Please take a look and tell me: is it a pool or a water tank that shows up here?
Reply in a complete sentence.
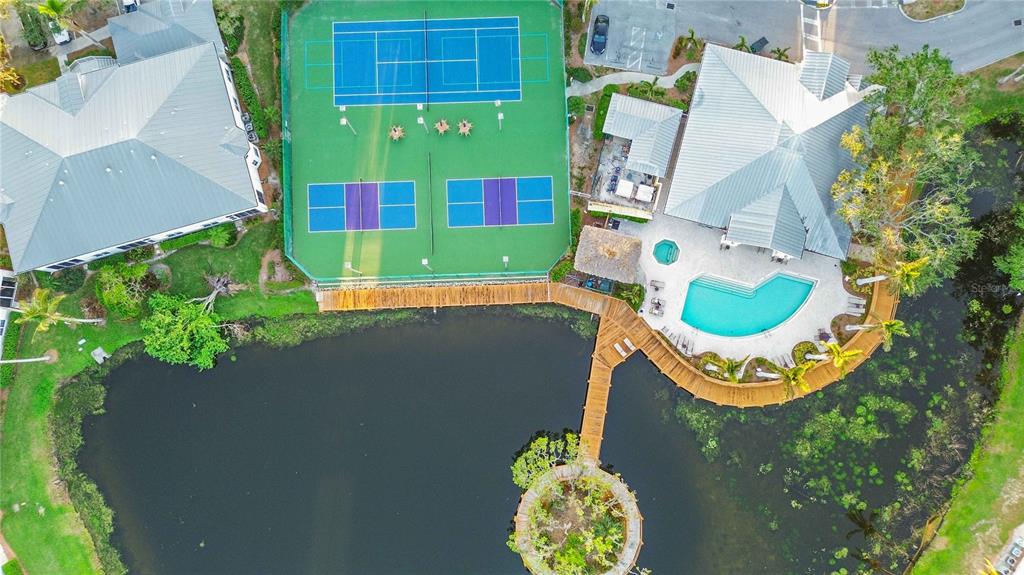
There is a pool in the scene.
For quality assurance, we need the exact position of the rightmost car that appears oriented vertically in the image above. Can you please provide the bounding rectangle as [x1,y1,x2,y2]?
[592,15,609,53]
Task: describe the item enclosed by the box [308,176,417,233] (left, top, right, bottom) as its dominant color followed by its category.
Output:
blue sports court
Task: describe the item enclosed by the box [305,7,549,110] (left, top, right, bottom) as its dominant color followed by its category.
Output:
blue tennis court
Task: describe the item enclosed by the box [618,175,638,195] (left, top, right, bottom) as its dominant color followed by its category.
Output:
white umbrella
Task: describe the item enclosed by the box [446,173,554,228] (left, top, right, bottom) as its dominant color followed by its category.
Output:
blue sports court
